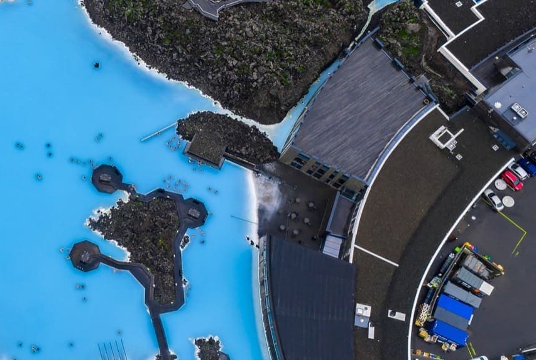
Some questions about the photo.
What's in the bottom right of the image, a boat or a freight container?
freight container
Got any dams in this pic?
No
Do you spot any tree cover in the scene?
No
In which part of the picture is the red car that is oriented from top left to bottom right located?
right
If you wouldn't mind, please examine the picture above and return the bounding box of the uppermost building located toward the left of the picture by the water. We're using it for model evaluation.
[184,129,225,165]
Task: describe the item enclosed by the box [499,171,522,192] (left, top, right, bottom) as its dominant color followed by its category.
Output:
red car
